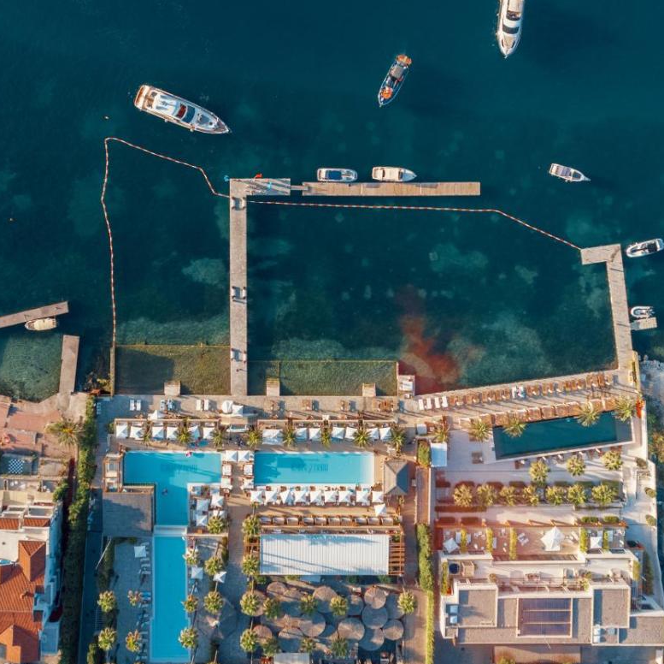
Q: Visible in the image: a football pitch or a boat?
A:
boat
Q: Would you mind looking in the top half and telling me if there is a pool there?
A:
No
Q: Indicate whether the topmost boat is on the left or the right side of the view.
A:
right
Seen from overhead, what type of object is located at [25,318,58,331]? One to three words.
boat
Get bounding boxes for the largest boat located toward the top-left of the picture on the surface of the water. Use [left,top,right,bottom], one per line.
[132,85,228,133]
